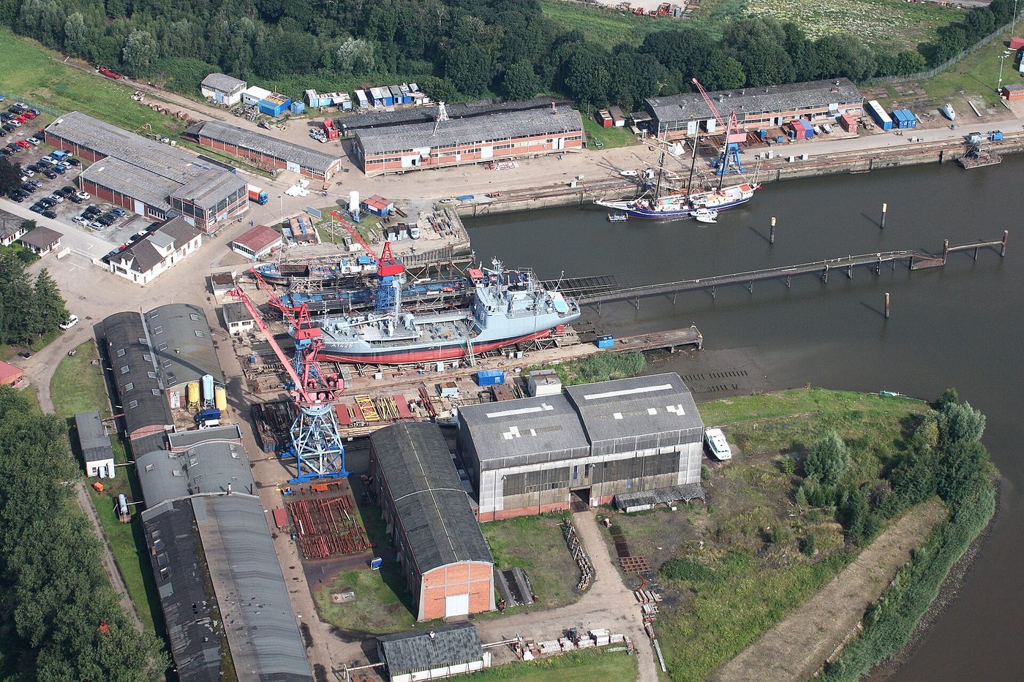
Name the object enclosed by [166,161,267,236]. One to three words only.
building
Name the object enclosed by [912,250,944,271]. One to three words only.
pier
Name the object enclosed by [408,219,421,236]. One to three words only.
vehicle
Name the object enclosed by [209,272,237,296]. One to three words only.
shed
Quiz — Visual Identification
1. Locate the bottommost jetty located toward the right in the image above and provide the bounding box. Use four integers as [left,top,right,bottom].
[553,315,704,356]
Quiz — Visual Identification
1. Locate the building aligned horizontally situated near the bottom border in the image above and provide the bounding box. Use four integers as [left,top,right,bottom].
[383,623,490,682]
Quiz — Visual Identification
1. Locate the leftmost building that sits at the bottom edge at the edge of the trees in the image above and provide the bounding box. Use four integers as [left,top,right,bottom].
[140,479,313,682]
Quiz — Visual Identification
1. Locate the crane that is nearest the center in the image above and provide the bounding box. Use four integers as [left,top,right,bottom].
[328,209,410,321]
